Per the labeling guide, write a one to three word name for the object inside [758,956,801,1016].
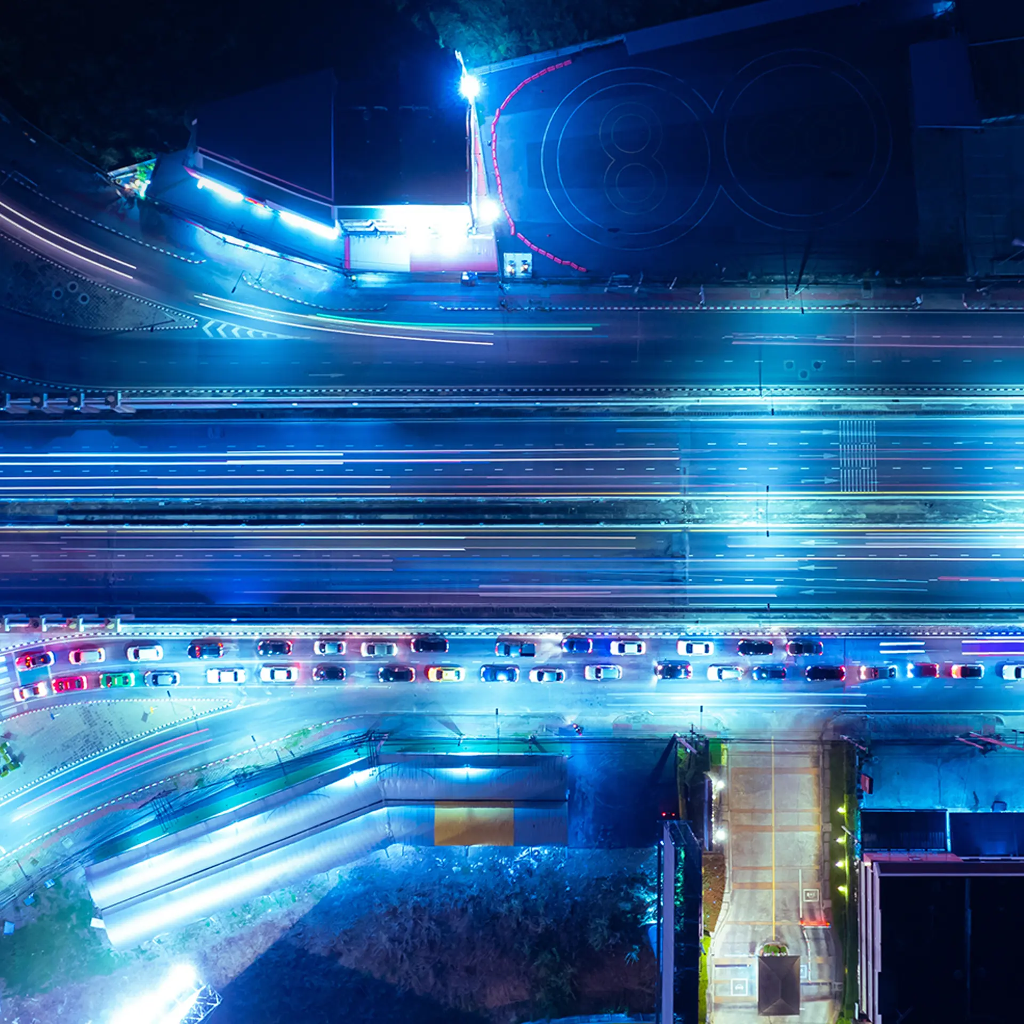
building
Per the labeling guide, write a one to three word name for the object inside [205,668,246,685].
vehicle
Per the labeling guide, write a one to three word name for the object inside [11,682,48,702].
car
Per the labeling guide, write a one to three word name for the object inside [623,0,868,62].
shed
